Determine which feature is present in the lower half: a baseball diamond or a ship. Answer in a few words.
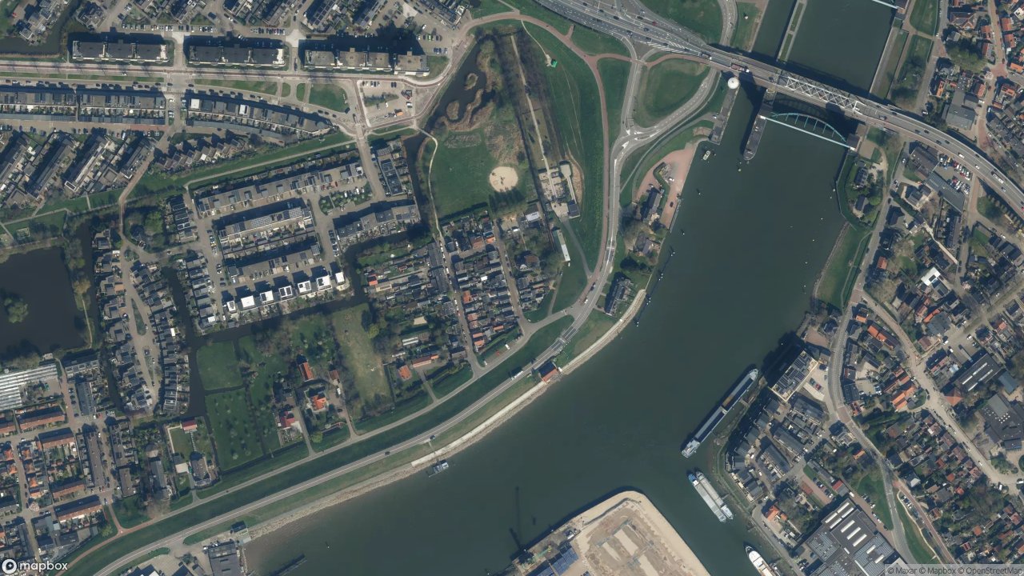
ship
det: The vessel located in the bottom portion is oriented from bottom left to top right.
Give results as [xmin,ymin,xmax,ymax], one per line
[683,370,756,456]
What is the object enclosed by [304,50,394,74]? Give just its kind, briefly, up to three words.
building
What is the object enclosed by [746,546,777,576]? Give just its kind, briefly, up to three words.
ship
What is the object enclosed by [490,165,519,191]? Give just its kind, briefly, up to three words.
playground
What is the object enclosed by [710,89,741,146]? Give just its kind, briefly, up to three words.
pier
